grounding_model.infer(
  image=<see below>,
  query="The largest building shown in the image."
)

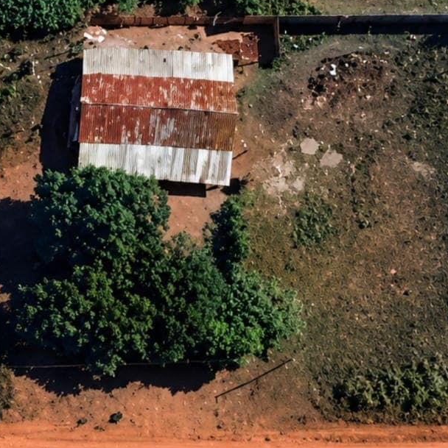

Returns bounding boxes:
[68,47,238,188]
